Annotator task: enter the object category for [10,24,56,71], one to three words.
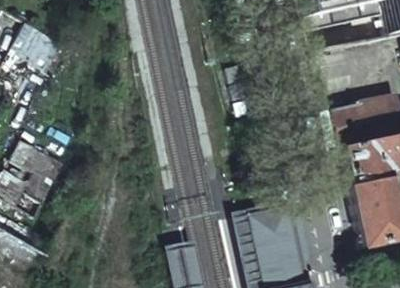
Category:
shed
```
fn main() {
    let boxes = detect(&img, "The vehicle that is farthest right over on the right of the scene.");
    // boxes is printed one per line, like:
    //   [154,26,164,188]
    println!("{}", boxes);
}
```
[330,208,344,232]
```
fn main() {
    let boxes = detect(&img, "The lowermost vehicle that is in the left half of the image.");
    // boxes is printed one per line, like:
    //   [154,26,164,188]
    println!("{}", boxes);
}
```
[45,140,66,158]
